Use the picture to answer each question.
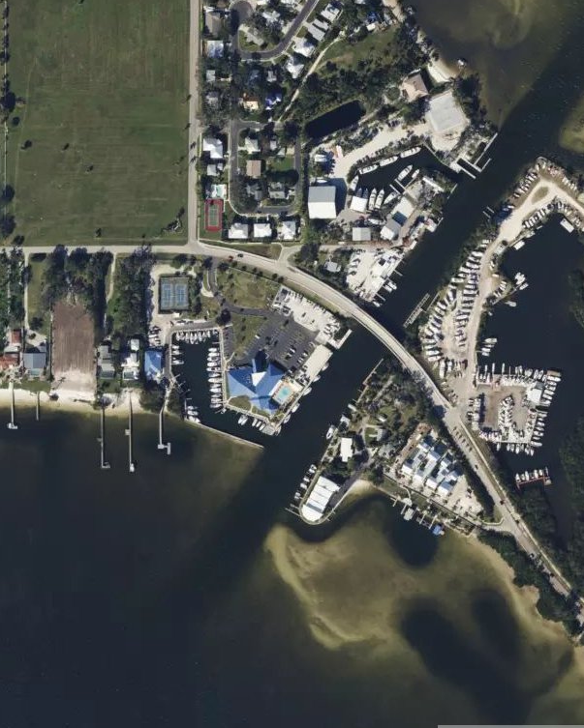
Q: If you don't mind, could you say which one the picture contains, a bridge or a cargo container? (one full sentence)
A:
Visible in the photo is a bridge.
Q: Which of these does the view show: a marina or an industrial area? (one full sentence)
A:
The area seen from above is a marina.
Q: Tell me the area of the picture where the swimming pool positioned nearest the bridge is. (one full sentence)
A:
The swimming pool positioned nearest the bridge is in the center part of the image.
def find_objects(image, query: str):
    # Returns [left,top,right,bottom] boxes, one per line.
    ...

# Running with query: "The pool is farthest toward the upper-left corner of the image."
[212,184,227,197]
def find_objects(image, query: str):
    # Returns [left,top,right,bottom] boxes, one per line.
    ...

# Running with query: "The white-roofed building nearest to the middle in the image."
[304,347,331,380]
